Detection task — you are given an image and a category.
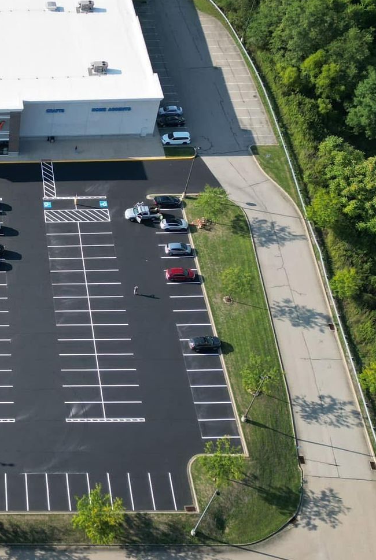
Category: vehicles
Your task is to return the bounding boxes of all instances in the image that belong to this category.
[159,107,184,118]
[0,244,5,257]
[164,243,193,257]
[158,117,185,129]
[187,337,221,352]
[160,132,191,146]
[159,219,190,233]
[165,268,196,283]
[152,197,181,209]
[125,207,160,223]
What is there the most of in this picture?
paved ground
